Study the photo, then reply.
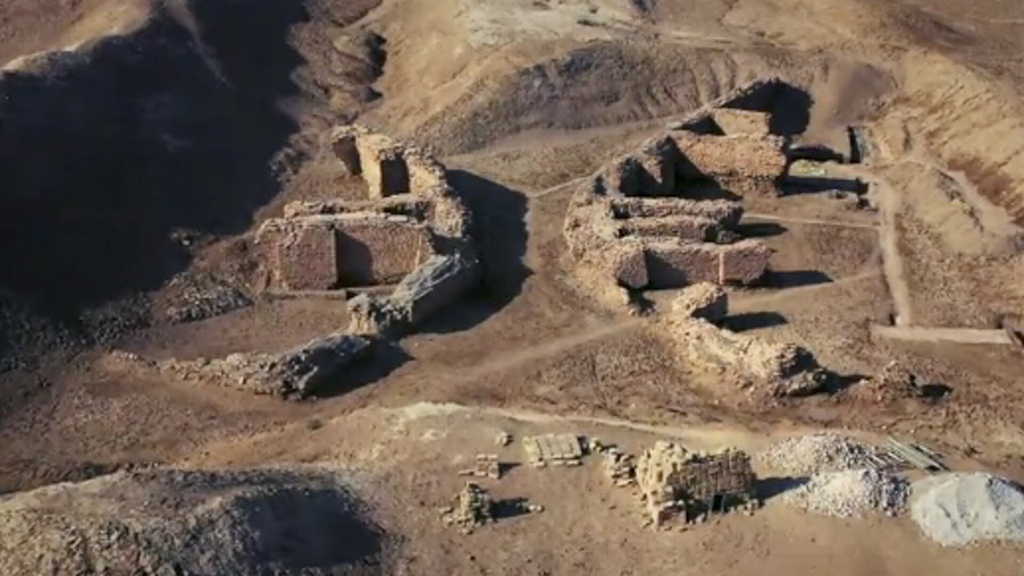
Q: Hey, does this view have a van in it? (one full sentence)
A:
No, the scene contains no van.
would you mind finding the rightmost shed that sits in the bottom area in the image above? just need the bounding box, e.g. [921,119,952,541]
[680,448,764,513]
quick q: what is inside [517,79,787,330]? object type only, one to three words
building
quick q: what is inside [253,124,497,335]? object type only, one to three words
building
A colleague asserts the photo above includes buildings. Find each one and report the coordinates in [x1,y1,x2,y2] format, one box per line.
[680,448,764,513]
[517,79,787,330]
[253,124,497,335]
